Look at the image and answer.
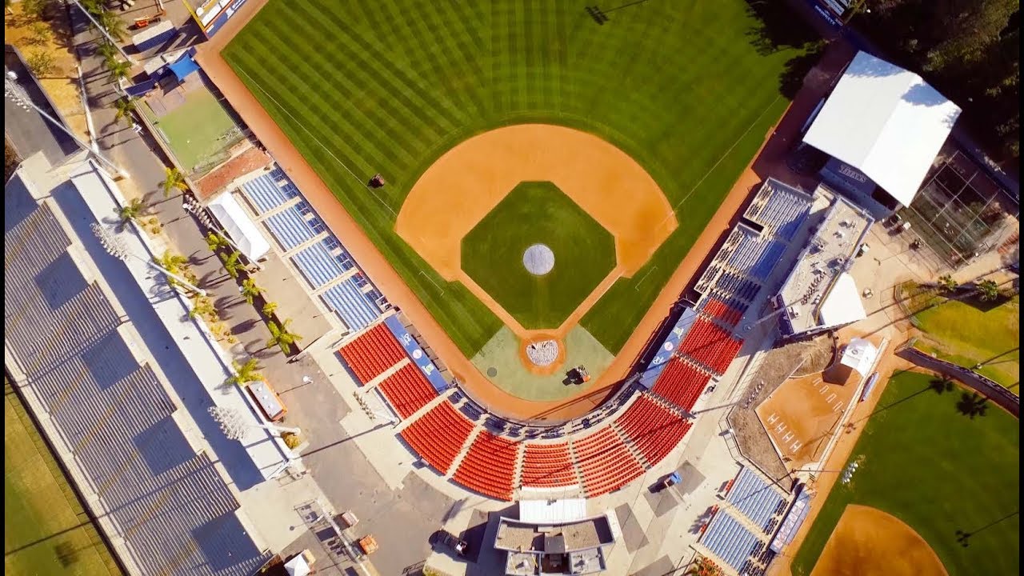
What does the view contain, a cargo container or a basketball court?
cargo container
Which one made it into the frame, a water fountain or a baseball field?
baseball field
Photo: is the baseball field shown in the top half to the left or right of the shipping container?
on its right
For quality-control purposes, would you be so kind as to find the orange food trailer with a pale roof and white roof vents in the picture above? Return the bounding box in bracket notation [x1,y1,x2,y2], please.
[250,380,289,421]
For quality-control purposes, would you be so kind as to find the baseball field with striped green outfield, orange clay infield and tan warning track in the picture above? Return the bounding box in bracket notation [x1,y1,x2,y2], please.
[199,0,839,426]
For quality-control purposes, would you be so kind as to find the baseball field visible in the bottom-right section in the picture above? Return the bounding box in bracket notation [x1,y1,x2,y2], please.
[771,340,1024,576]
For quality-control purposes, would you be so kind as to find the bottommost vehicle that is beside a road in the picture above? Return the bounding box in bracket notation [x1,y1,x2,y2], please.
[430,530,469,558]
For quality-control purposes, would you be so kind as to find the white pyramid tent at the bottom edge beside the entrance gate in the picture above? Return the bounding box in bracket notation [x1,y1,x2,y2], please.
[284,554,316,576]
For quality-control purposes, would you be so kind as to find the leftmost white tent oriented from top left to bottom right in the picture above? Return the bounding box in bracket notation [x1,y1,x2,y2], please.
[208,191,275,261]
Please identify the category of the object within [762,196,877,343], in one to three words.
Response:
building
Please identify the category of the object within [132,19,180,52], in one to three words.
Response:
shipping container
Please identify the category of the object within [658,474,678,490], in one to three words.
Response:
work vehicle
